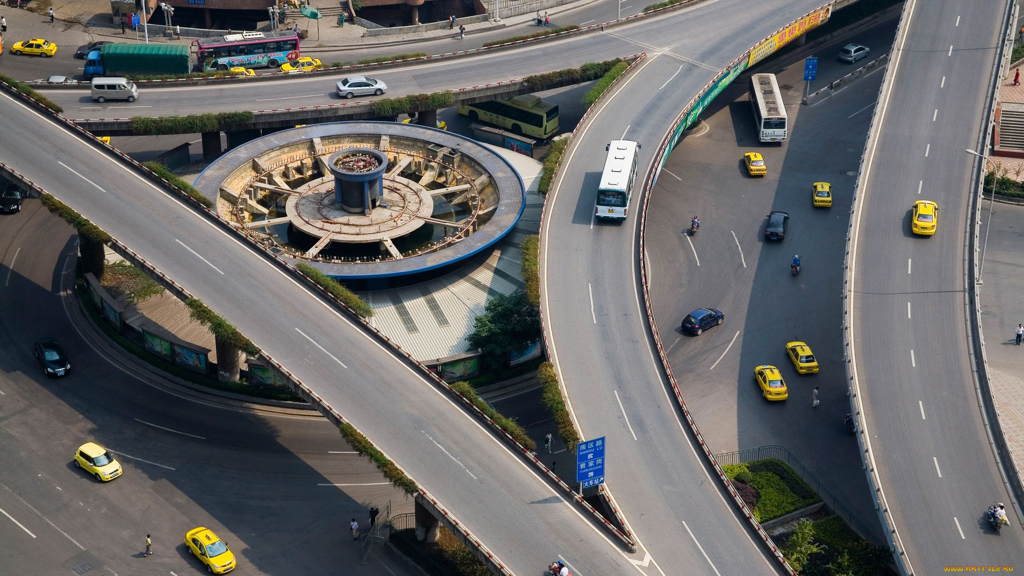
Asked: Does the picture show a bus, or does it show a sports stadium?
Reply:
bus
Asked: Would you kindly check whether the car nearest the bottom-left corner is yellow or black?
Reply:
yellow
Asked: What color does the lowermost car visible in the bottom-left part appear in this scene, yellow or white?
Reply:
yellow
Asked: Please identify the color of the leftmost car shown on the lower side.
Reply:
black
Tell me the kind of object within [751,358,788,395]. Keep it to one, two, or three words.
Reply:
car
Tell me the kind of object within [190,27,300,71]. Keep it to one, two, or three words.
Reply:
bus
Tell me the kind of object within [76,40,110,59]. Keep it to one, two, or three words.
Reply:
car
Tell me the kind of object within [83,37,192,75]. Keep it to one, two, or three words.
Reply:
truck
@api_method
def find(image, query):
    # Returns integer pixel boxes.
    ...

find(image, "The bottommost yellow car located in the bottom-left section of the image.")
[187,526,235,576]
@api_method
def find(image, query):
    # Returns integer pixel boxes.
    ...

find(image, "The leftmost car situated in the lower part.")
[33,337,71,379]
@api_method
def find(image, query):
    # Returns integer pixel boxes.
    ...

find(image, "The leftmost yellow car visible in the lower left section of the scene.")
[72,439,120,482]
